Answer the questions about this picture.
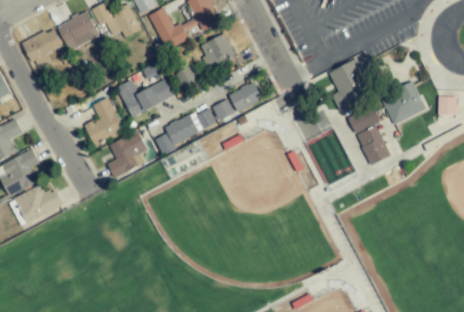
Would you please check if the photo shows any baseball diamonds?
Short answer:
Yes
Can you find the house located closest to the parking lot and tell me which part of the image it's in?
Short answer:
top right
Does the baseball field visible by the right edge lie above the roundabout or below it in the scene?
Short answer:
below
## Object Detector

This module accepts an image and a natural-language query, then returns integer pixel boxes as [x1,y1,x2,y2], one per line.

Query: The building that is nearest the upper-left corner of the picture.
[21,28,64,64]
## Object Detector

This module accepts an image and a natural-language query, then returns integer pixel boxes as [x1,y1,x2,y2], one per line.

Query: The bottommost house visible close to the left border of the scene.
[10,188,61,229]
